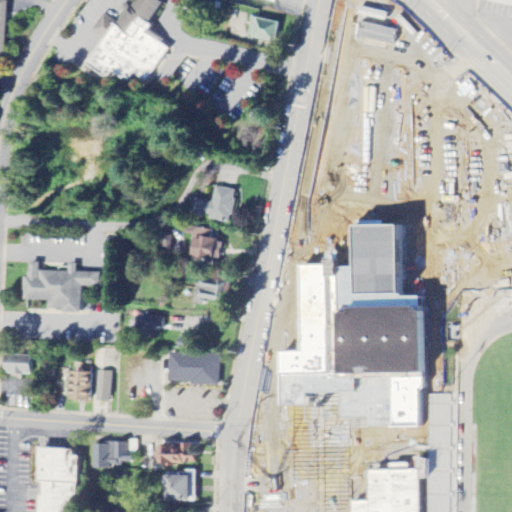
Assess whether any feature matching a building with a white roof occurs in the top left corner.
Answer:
Yes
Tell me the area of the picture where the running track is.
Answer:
bottom right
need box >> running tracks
[458,310,512,512]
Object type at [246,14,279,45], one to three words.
building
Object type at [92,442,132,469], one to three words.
house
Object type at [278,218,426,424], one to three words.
building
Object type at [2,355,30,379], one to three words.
house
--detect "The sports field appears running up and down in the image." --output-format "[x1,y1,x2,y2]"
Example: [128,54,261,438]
[474,330,512,512]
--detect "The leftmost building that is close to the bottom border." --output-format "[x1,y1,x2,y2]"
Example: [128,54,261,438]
[35,447,78,512]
